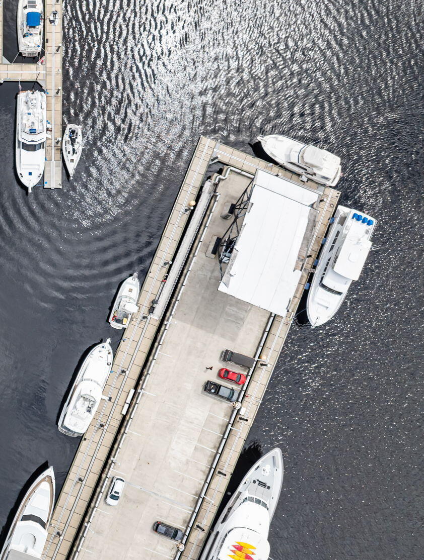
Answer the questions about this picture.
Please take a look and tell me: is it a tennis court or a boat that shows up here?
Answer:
boat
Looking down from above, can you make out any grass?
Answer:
No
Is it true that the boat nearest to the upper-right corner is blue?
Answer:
No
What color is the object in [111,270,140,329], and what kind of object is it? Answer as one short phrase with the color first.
white boat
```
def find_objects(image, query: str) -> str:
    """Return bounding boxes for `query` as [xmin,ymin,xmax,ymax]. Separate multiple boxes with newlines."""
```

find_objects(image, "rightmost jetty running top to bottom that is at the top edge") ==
[44,0,62,161]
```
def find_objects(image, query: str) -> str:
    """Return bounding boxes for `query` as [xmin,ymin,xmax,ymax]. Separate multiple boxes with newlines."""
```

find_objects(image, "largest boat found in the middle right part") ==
[296,207,386,327]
